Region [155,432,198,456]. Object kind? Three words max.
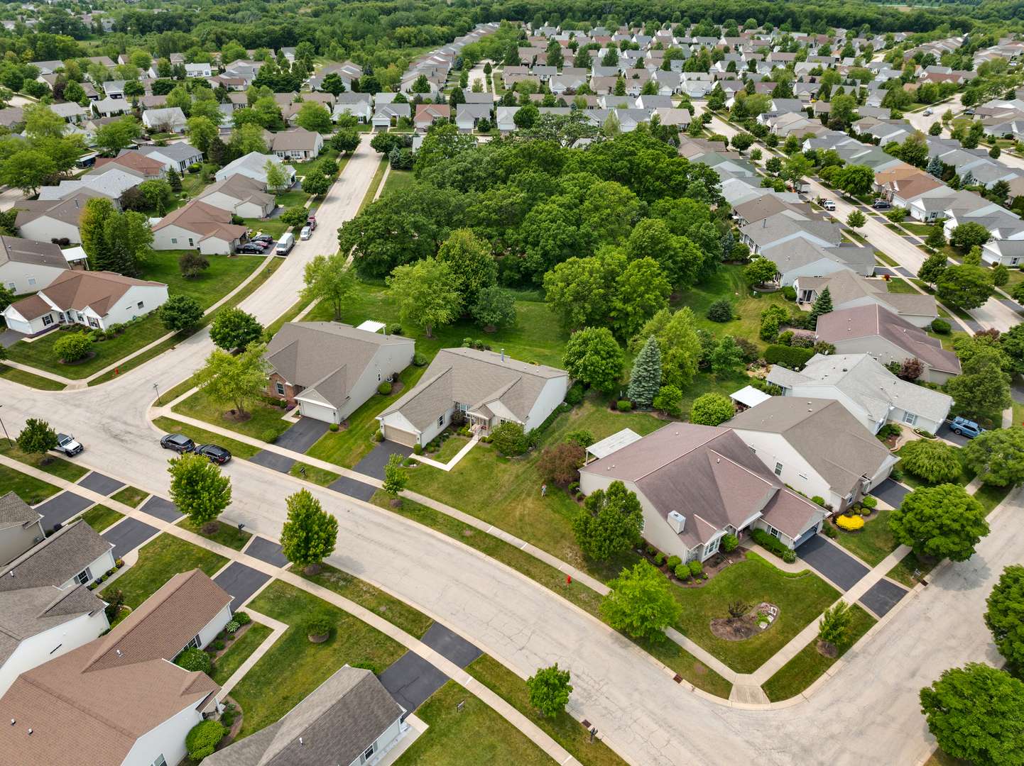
car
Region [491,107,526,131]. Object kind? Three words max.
house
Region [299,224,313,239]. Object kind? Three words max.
vehicle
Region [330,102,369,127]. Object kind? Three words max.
house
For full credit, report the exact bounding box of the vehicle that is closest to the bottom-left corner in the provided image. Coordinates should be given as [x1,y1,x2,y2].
[51,429,84,458]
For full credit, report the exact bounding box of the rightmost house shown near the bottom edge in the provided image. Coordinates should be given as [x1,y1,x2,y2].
[170,666,408,766]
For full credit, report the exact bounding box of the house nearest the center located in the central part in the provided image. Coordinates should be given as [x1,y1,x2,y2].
[375,349,568,449]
